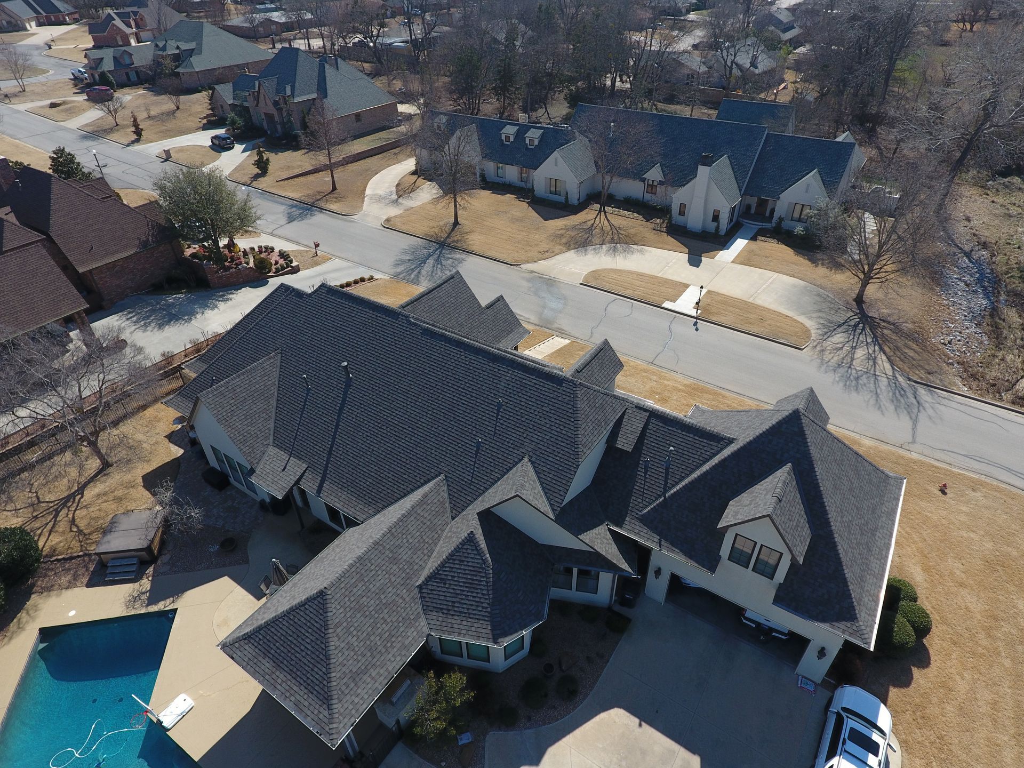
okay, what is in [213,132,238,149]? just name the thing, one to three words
car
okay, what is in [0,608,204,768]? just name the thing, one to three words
swimming pool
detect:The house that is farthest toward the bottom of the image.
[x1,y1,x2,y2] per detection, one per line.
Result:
[159,270,913,768]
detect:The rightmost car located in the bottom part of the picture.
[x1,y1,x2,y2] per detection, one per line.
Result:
[813,683,894,768]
